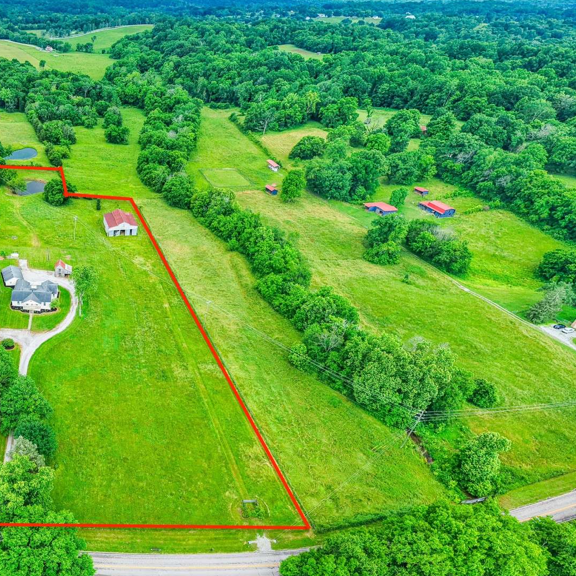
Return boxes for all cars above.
[564,329,575,334]
[555,324,567,330]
